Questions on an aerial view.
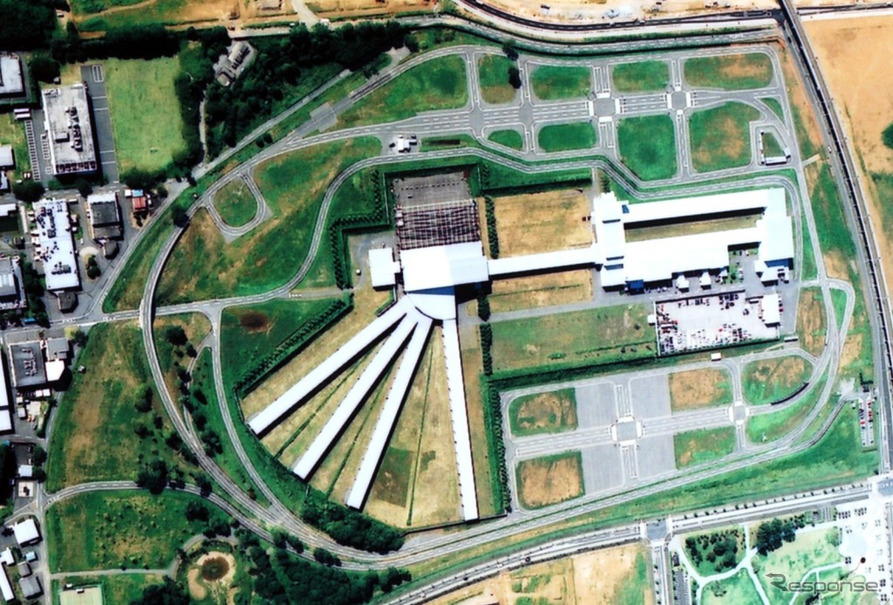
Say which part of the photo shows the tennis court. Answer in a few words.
bottom left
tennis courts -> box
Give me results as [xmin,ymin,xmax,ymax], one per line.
[58,582,104,605]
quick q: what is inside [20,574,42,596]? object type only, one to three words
house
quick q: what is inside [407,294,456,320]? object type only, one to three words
building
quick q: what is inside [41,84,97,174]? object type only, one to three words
building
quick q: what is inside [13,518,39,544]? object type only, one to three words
shed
